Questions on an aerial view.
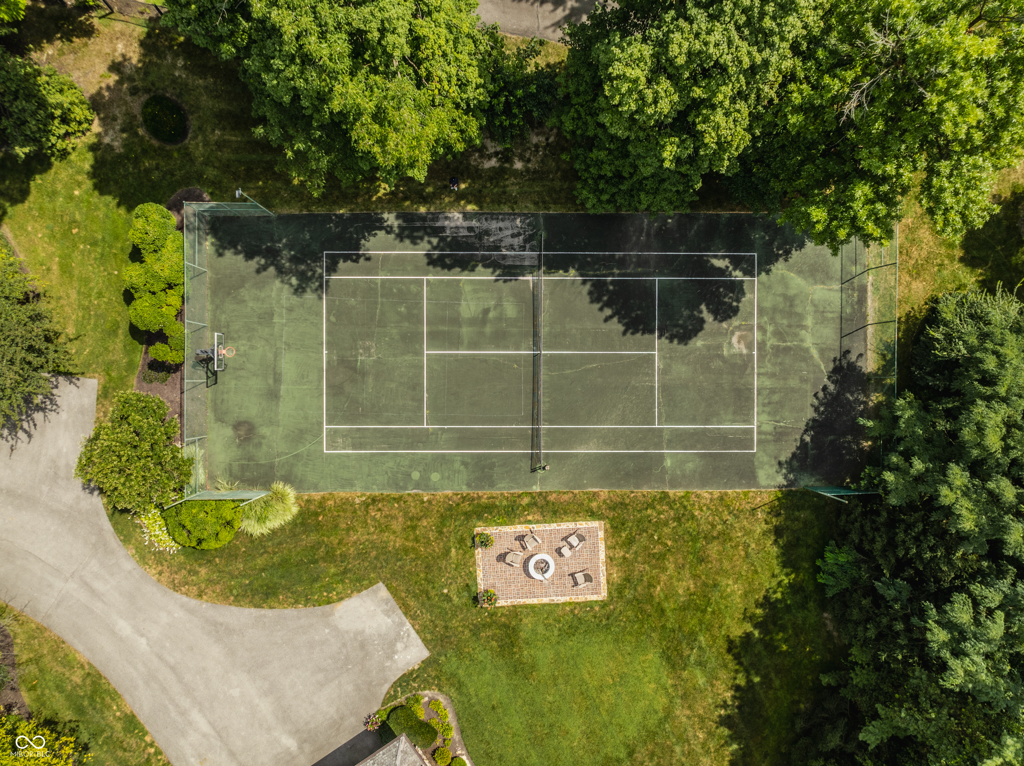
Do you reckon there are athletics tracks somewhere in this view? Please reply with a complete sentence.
No, no athletics track is visible in the scene.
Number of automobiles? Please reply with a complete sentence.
There are no automobiles in the image.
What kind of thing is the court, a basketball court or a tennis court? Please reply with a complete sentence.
It turns out the court is a tennis court.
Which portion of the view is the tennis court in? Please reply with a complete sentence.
You can find the tennis court in the center area of the picture.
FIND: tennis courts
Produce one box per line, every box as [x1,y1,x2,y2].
[207,211,869,492]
